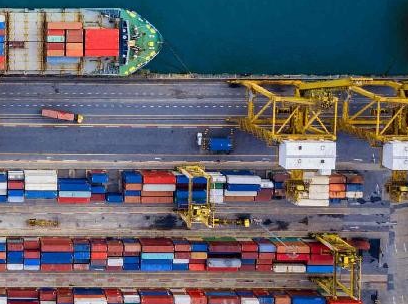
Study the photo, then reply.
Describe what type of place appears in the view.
port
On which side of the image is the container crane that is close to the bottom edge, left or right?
right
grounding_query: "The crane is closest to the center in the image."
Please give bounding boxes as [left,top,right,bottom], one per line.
[172,162,214,228]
